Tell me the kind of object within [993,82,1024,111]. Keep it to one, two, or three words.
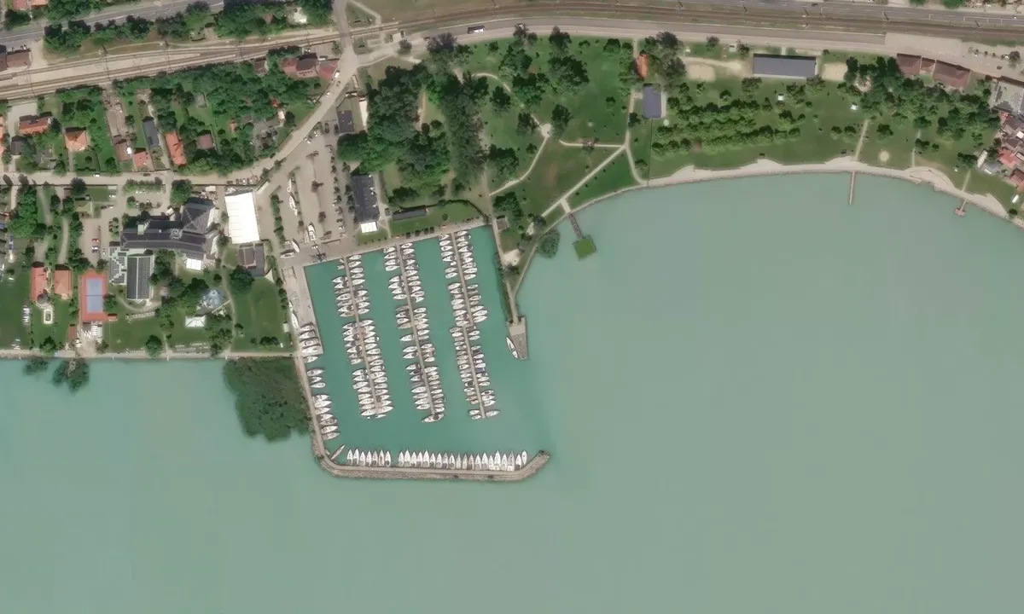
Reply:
building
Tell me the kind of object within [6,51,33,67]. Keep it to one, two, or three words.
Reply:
building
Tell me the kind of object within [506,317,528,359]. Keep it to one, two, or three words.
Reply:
pier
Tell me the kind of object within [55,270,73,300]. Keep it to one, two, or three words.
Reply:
house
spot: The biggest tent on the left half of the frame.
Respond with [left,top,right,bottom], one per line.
[225,192,262,244]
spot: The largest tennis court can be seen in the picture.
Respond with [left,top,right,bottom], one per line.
[80,271,107,322]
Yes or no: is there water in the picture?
Yes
